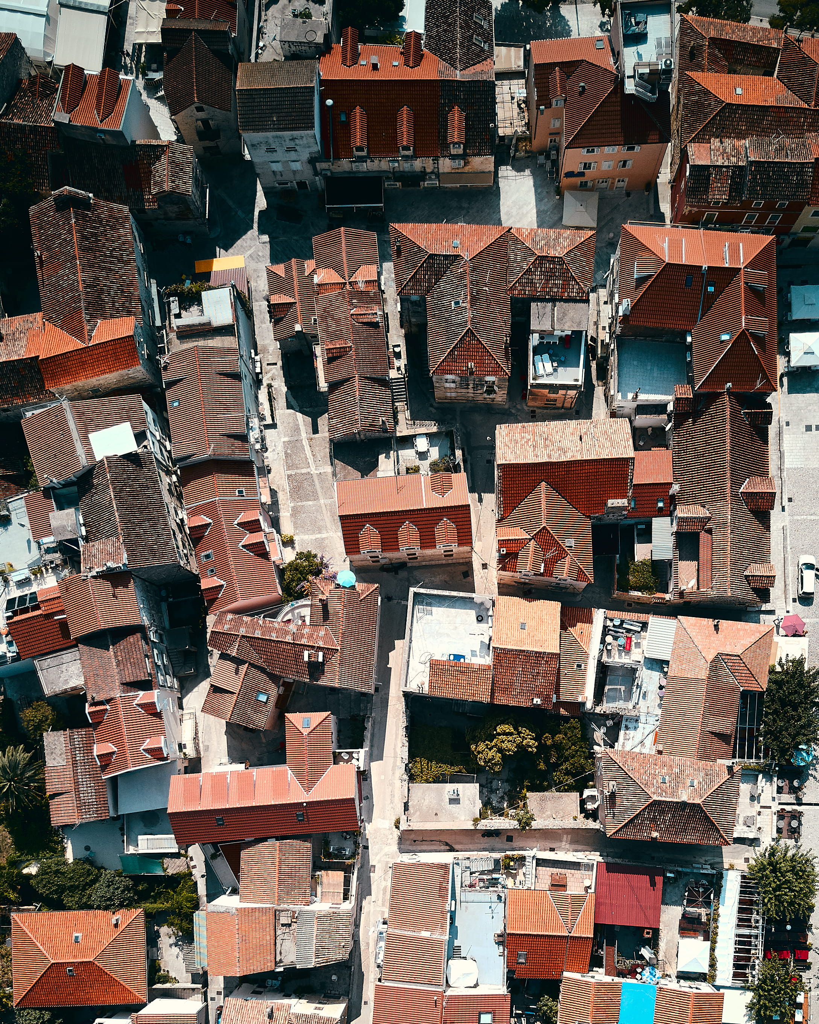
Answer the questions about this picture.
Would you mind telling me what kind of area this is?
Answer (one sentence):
The area seen from above is a residential area.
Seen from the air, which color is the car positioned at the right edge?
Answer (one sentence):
The car positioned at the right edge looks white in the image.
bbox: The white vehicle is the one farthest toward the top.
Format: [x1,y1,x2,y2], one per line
[798,556,819,597]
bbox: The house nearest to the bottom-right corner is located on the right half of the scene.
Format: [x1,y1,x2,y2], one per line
[654,972,725,1024]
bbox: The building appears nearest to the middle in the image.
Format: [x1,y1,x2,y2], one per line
[334,472,474,561]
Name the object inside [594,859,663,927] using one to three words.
building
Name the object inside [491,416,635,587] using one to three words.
house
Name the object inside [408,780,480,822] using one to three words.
shed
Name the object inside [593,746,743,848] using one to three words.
house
